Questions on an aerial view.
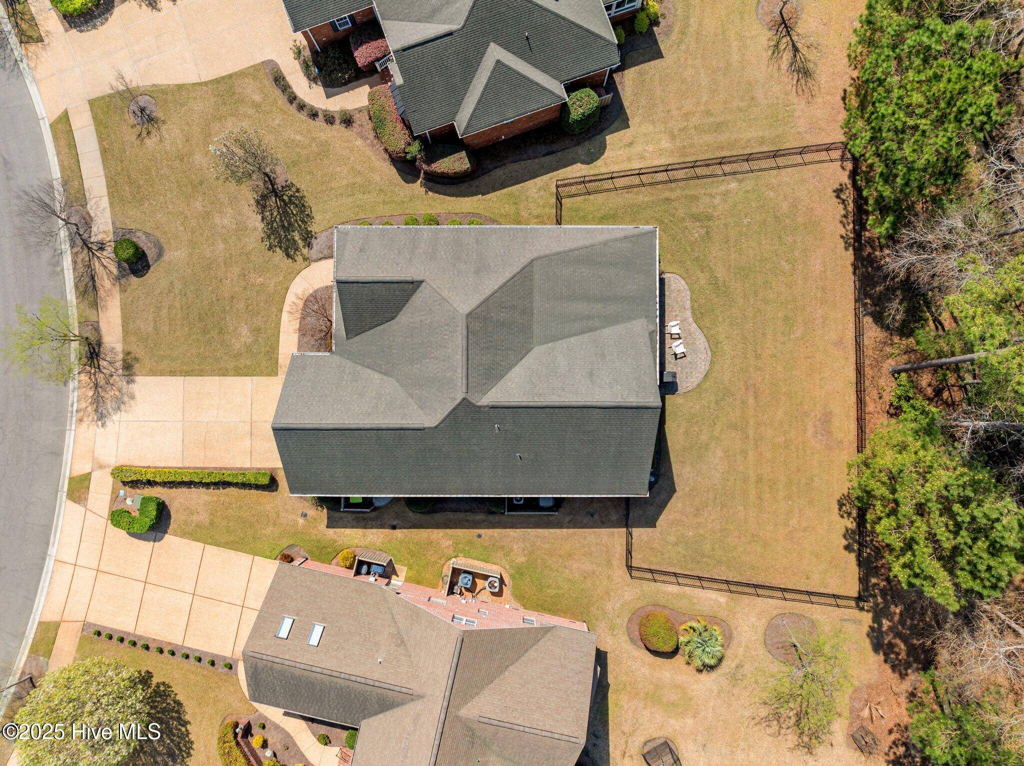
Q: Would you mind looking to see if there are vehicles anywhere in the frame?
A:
No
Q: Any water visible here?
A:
No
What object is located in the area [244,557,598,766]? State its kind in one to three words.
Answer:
house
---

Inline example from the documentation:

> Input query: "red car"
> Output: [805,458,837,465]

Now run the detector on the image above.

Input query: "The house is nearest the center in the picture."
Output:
[272,226,661,498]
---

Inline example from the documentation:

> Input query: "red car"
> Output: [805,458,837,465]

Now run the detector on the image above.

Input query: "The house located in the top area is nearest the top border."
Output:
[282,0,623,148]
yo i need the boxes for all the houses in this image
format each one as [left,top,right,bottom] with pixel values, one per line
[282,0,623,148]
[272,226,661,498]
[244,557,598,766]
